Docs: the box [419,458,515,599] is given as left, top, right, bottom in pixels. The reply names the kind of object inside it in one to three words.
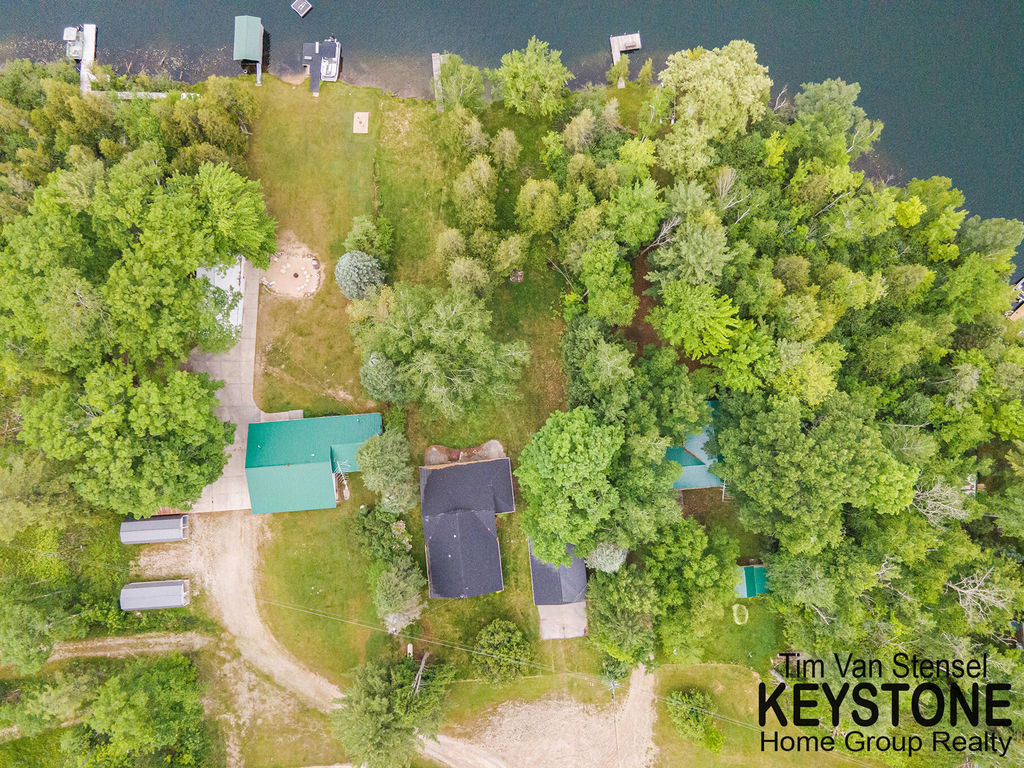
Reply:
house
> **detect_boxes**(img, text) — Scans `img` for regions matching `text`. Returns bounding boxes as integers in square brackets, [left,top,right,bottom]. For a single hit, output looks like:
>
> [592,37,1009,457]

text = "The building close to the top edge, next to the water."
[233,15,269,71]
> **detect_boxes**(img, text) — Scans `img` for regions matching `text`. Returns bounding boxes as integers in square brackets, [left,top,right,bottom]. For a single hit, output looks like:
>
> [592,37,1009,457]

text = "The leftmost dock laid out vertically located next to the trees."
[79,24,99,93]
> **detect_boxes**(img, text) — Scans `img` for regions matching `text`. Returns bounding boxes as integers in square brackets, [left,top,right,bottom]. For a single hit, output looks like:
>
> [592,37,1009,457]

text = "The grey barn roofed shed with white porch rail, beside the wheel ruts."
[119,575,195,609]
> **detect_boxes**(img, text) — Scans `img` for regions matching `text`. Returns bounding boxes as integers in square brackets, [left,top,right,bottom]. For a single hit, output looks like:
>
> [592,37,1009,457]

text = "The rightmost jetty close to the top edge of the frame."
[610,31,641,54]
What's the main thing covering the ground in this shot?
trees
